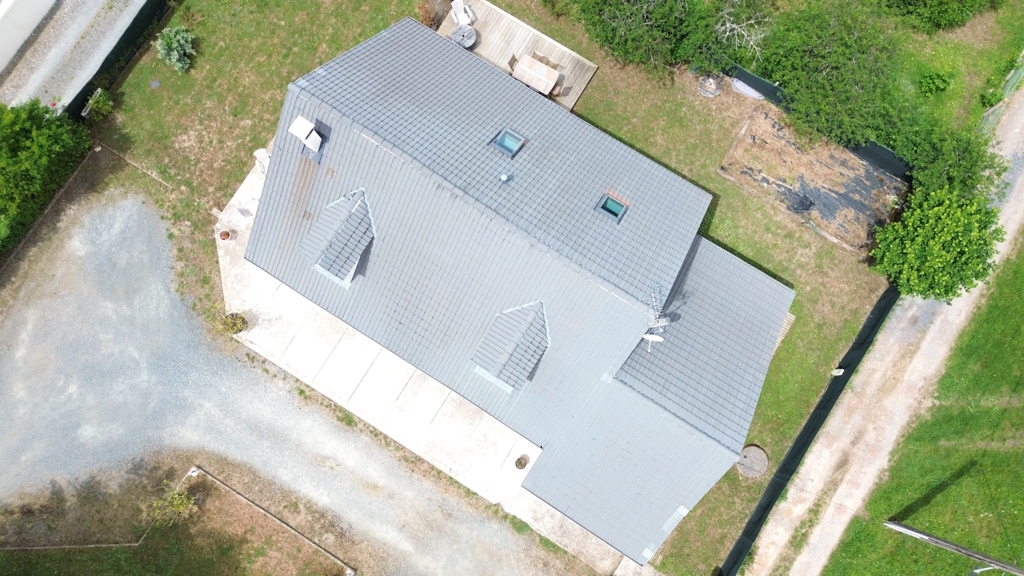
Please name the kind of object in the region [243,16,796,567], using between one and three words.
house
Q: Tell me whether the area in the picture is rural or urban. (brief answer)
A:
urban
